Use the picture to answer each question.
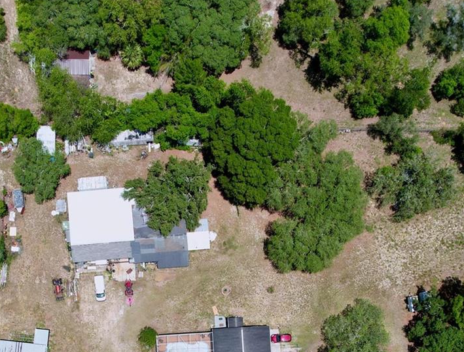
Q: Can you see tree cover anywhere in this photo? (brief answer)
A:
Yes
